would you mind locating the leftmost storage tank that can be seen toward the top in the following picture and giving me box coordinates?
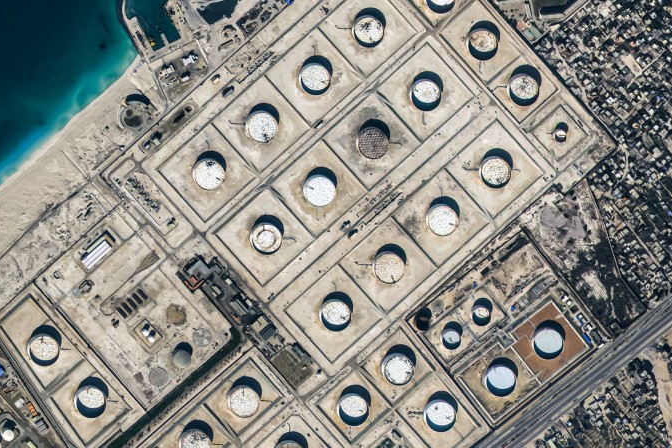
[192,144,226,191]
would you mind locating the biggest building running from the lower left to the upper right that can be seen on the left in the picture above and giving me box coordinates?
[81,240,111,267]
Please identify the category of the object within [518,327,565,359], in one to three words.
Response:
storage tank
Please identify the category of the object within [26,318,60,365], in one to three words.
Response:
storage tank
